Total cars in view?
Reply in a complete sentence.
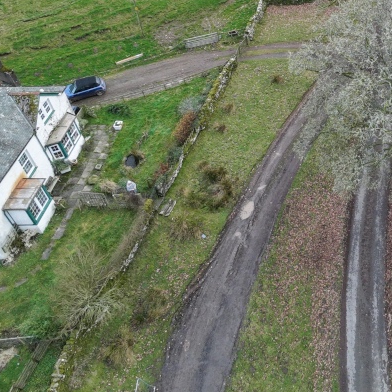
The photo contains exactly 1 car.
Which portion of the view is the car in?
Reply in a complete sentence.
The car is in the top left part of the image.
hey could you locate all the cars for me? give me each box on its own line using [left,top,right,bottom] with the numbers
[67,75,107,104]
